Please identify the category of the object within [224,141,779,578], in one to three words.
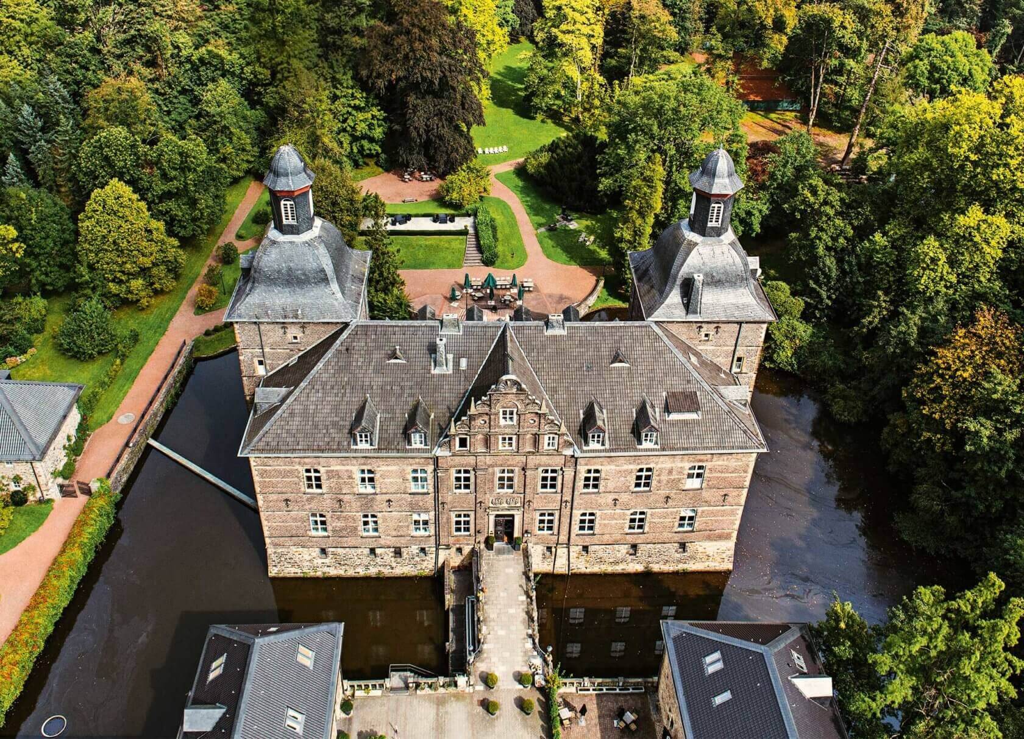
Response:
building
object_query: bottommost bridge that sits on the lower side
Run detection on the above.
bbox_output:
[466,540,555,684]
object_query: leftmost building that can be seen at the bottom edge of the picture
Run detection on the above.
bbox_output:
[174,620,346,739]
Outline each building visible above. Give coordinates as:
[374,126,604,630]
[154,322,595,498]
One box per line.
[174,620,346,739]
[0,353,87,501]
[658,617,849,739]
[224,141,779,578]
